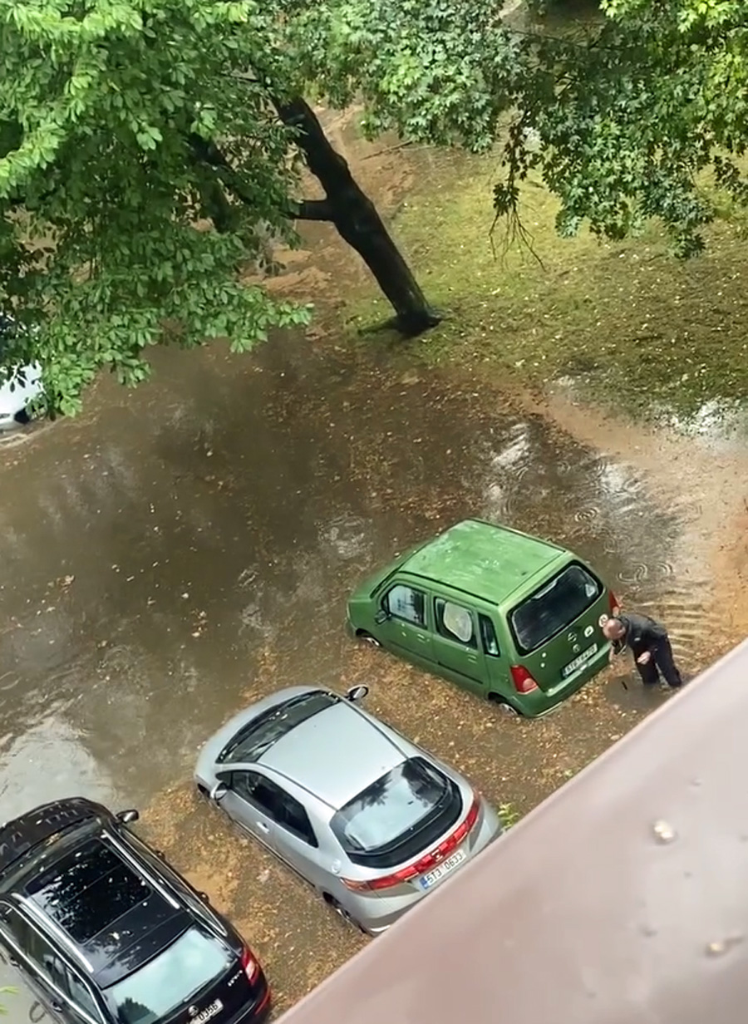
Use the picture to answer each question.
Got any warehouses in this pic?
No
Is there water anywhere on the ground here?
Yes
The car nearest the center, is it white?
No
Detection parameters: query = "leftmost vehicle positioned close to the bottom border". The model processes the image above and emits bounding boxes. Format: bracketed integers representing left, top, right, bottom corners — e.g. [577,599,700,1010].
[0,807,274,1024]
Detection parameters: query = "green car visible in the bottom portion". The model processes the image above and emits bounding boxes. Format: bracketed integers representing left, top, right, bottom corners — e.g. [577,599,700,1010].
[352,520,612,713]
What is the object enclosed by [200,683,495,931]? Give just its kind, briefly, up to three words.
car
